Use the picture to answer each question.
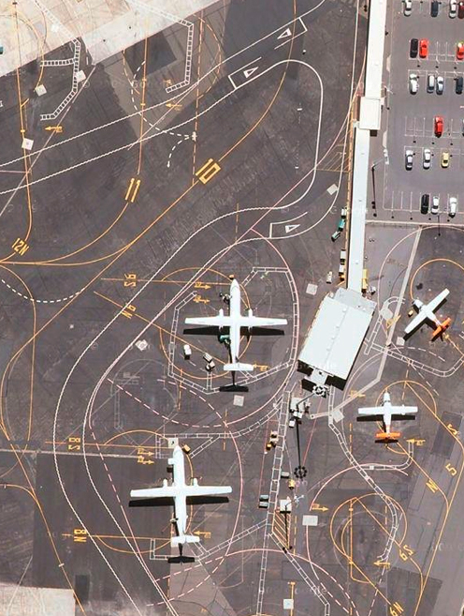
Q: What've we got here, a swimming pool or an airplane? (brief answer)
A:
airplane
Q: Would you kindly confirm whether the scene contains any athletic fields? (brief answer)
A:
No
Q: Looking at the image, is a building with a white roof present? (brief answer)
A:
Yes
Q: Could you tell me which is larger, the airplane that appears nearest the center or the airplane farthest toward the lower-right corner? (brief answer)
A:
the airplane that appears nearest the center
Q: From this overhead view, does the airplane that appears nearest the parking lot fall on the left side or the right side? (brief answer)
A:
right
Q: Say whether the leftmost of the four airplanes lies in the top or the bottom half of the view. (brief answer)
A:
bottom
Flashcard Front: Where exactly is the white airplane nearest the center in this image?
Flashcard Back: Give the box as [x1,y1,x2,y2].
[185,279,286,371]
